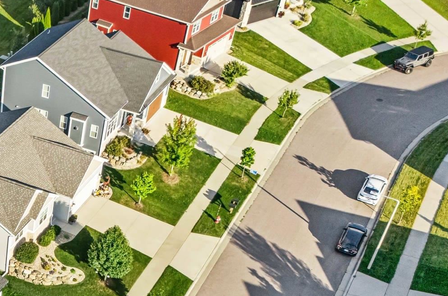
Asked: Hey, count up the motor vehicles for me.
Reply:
3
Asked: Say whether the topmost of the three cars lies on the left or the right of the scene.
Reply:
right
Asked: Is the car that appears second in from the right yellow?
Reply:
No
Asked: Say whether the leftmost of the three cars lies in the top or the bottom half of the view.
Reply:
bottom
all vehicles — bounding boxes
[394,45,436,73]
[334,223,370,260]
[356,177,389,208]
